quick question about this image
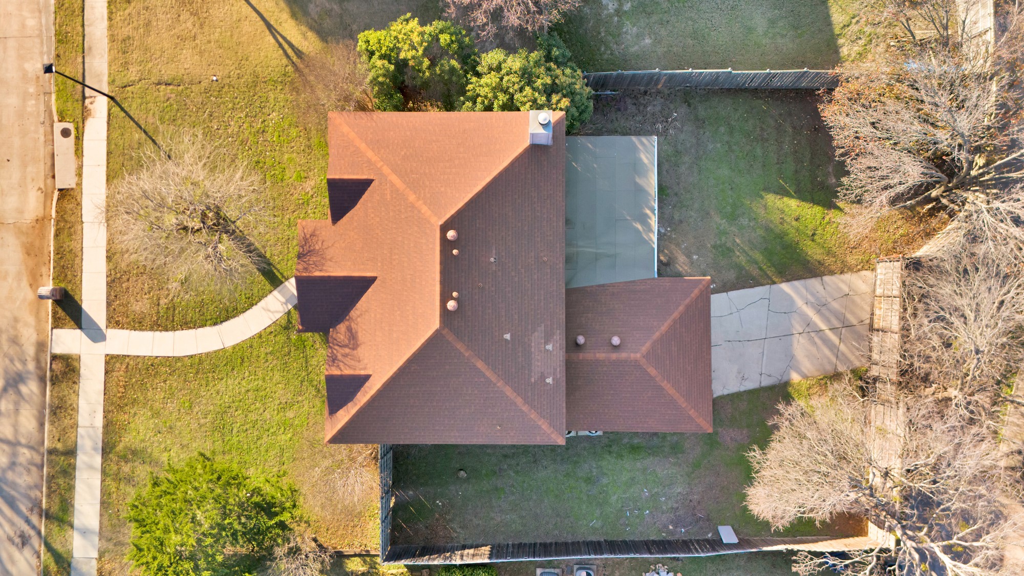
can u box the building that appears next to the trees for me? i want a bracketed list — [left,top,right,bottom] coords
[289,108,714,447]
